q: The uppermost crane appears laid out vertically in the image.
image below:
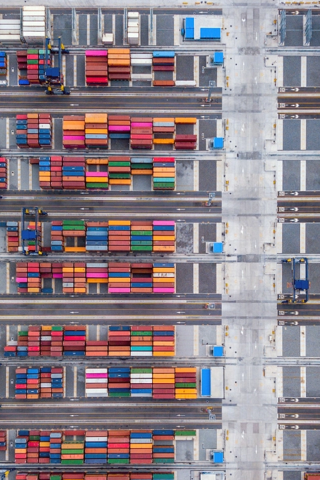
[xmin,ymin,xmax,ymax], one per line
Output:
[44,37,72,96]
